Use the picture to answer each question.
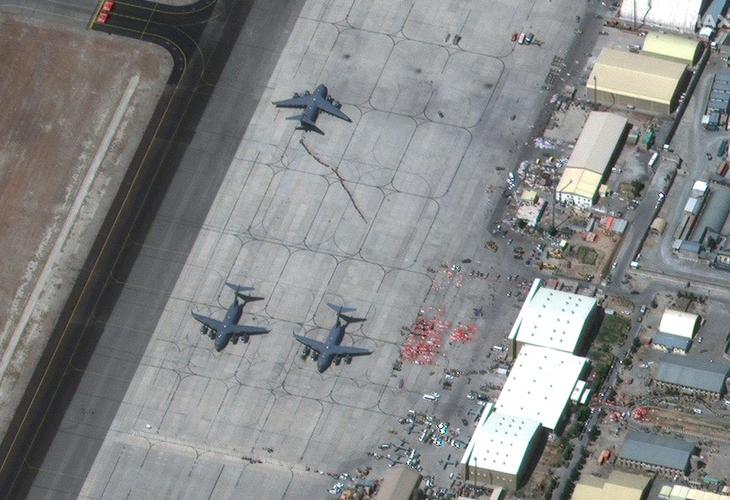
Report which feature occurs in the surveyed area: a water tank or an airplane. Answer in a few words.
airplane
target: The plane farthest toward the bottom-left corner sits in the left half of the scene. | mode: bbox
[192,280,272,352]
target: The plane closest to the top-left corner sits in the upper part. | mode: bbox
[270,83,349,128]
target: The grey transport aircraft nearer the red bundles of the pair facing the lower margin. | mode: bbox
[294,302,373,373]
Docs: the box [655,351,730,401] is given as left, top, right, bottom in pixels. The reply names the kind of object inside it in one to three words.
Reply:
building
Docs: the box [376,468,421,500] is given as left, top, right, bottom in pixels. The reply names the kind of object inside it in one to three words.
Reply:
building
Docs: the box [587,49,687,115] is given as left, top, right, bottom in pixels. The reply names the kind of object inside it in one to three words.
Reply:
hangar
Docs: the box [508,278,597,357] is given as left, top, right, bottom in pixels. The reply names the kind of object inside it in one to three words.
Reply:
hangar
